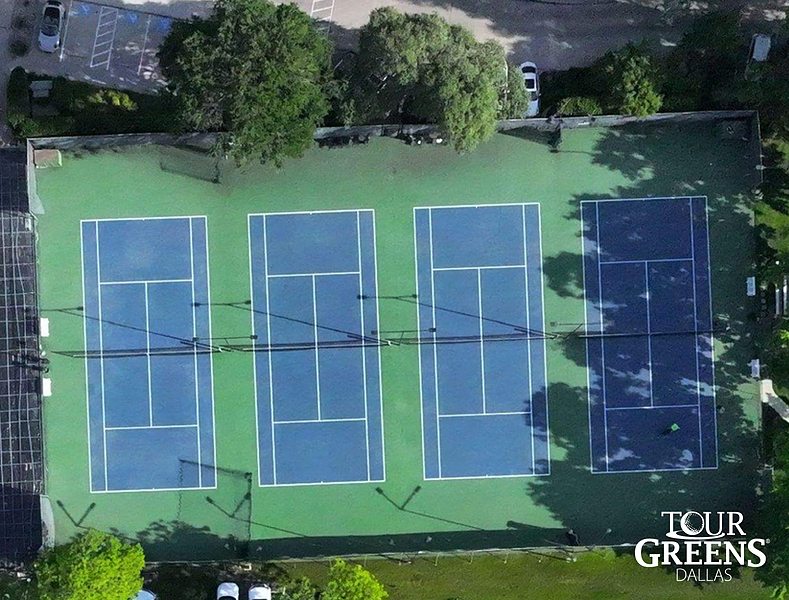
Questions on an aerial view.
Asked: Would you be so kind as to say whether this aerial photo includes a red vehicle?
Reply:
No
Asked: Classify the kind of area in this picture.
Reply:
sports ground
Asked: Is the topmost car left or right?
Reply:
left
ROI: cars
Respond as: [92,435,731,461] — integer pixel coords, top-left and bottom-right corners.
[524,65,547,119]
[216,582,241,600]
[250,583,272,600]
[37,0,65,54]
[745,32,772,81]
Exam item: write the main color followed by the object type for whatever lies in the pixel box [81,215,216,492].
blue tennis court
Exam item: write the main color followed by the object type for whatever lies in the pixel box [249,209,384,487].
blue tennis court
